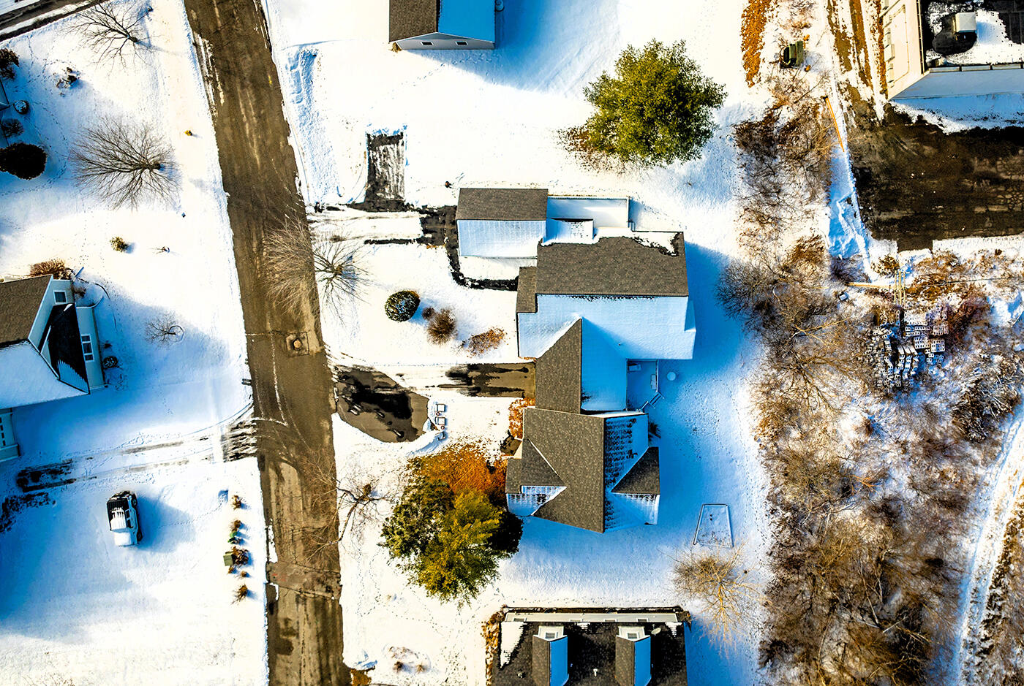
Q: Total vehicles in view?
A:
1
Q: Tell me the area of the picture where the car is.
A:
bottom left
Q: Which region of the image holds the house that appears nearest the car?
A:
left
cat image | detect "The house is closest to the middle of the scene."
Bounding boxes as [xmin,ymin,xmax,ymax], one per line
[455,187,696,533]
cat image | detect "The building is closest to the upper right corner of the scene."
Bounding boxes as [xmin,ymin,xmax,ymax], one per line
[871,0,1024,97]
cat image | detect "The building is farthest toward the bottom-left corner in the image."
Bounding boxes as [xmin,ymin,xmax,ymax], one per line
[0,267,102,461]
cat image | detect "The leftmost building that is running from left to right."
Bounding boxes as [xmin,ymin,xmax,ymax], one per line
[387,0,497,52]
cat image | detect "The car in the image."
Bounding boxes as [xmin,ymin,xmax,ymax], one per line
[103,490,139,551]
